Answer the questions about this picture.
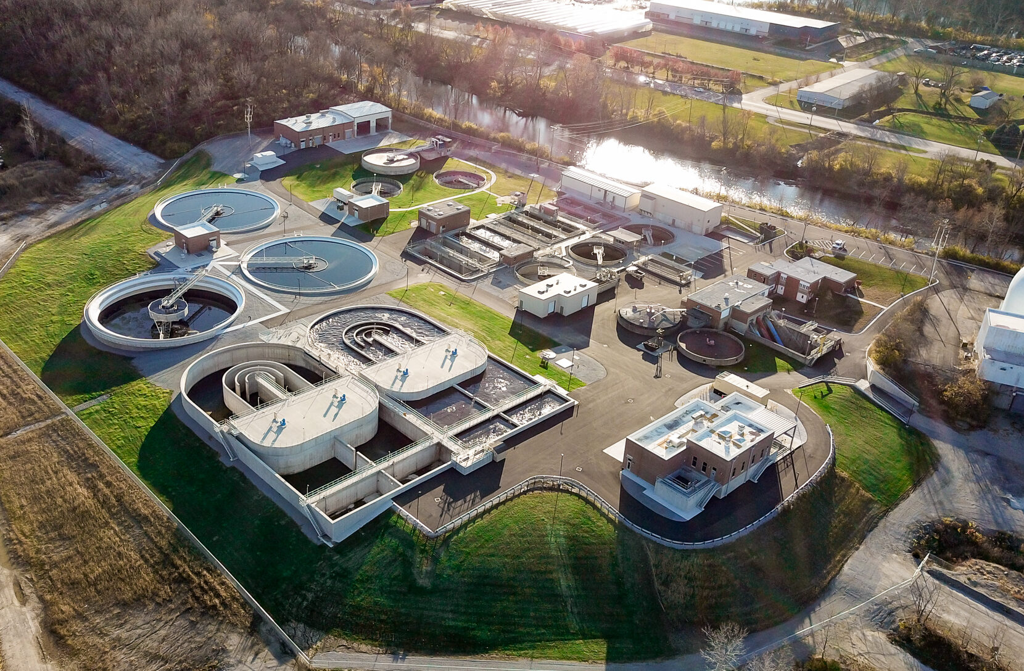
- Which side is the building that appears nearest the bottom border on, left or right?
right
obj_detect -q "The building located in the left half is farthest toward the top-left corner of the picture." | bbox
[173,220,221,253]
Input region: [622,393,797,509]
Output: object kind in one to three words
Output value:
building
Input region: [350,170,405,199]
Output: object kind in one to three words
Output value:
storage tank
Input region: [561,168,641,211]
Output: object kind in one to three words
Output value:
shed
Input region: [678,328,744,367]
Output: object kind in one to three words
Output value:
storage tank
